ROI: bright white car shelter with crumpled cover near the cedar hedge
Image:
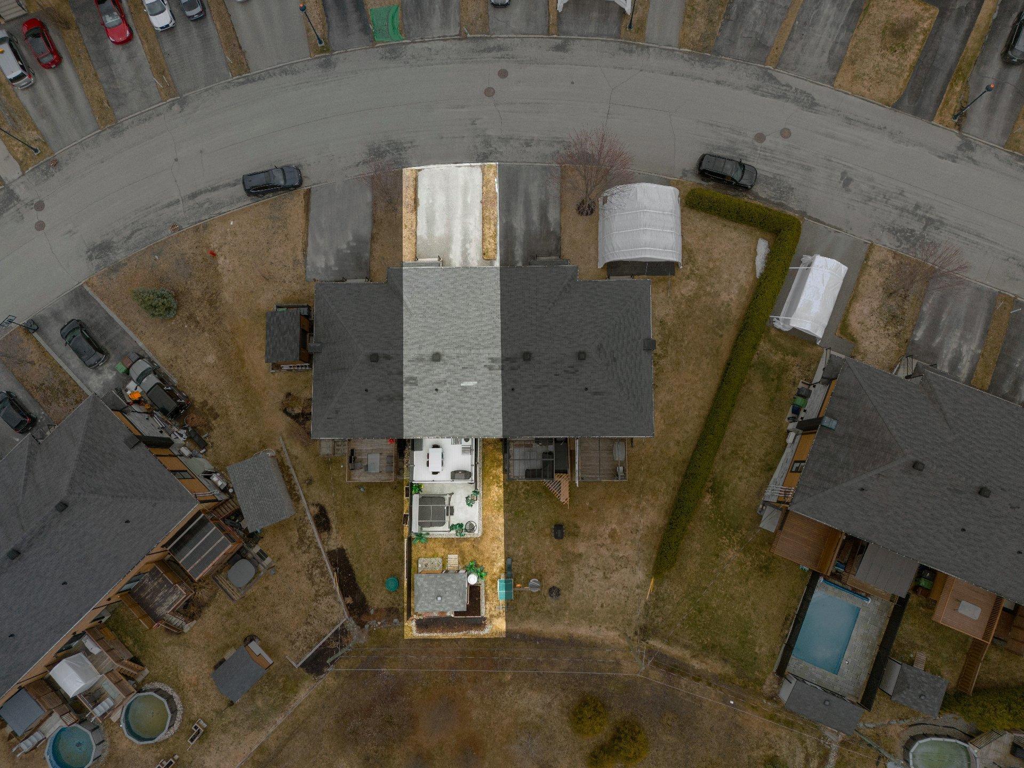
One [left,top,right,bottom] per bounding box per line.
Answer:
[780,256,845,340]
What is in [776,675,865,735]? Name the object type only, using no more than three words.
shed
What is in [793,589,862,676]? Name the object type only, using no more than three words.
swimming pool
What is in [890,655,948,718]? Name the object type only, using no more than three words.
shed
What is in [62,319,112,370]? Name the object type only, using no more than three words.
car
